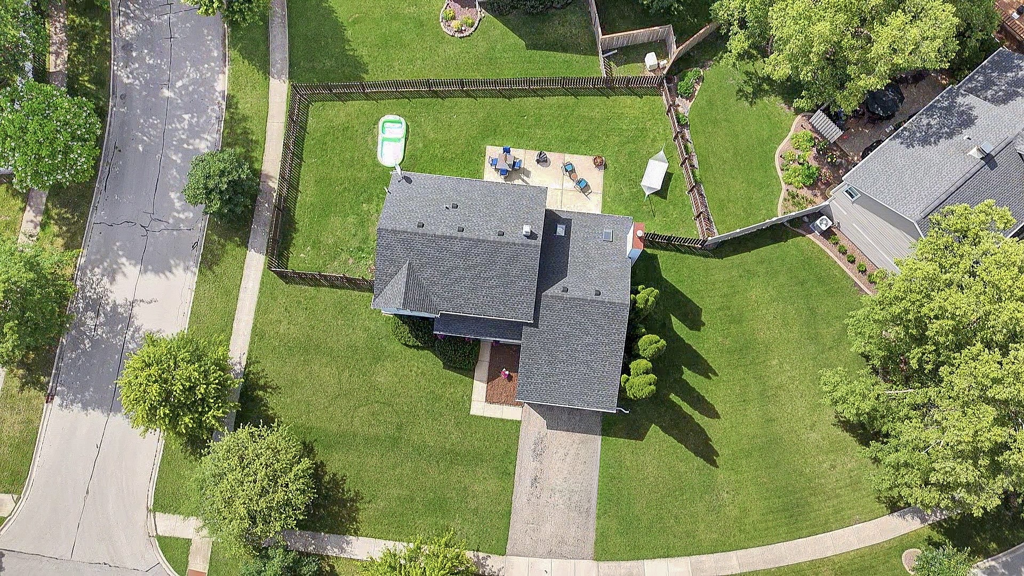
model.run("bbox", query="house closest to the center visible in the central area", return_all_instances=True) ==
[372,169,647,417]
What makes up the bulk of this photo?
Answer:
grass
